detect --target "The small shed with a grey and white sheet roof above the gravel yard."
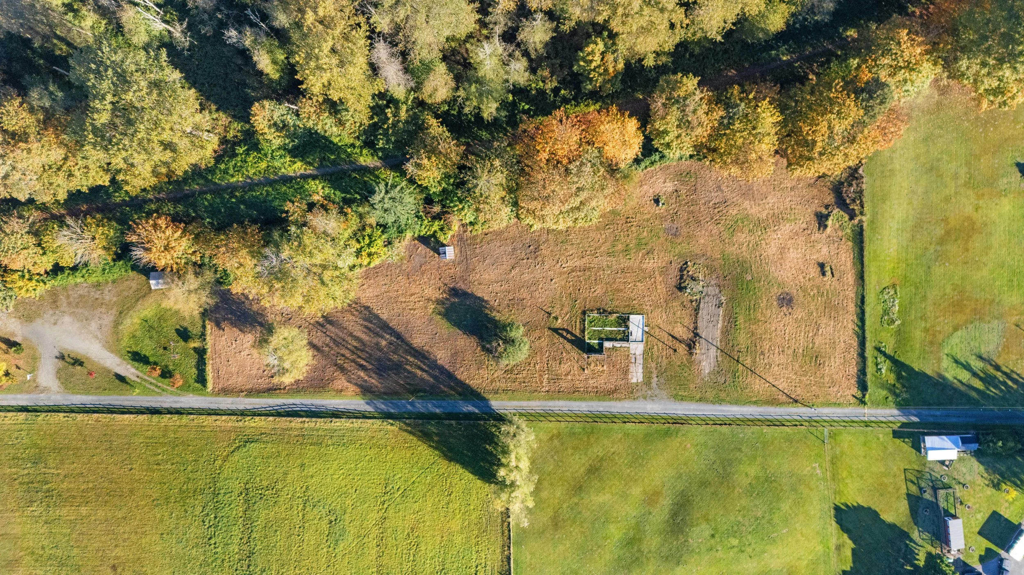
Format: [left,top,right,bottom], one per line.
[148,272,173,289]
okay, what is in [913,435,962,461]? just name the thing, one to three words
shed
